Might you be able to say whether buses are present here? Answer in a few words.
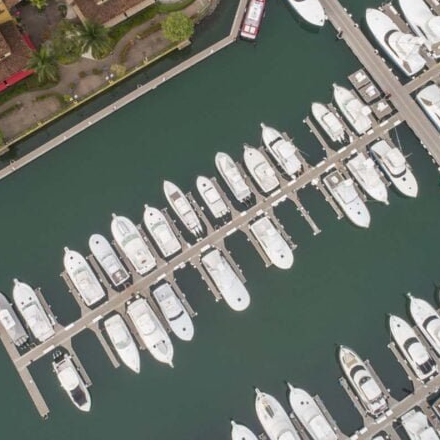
No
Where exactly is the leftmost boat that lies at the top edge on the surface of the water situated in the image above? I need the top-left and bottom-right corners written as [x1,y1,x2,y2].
[240,0,264,40]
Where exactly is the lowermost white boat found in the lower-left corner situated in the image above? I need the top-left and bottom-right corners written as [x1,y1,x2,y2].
[52,352,90,414]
